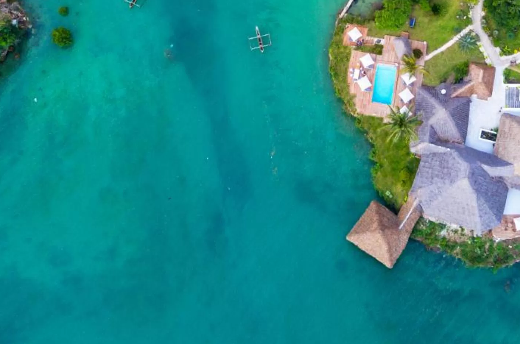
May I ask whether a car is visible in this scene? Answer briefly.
No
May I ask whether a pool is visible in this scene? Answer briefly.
Yes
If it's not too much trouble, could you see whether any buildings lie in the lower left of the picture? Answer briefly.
No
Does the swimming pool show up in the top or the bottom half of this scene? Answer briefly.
top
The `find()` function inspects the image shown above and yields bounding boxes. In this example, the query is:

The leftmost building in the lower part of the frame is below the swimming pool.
[345,199,415,270]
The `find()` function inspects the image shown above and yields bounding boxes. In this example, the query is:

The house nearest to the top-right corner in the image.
[453,61,496,101]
